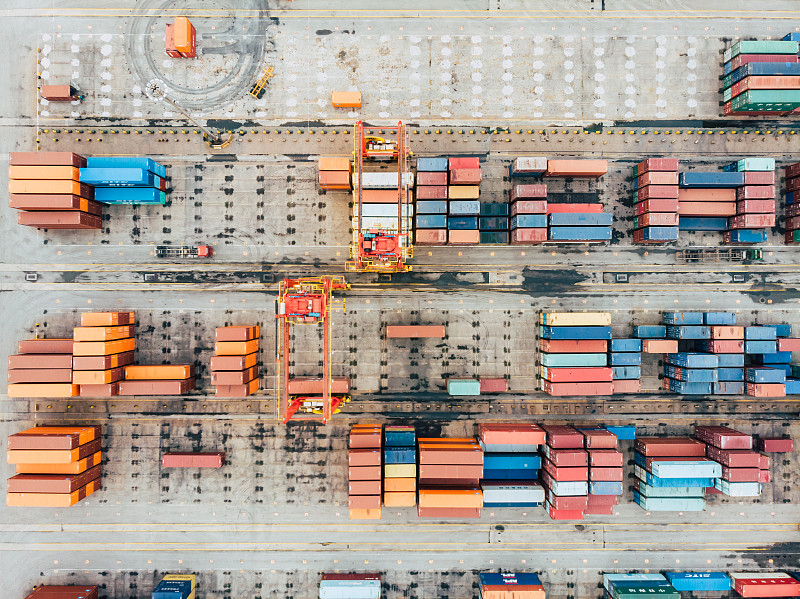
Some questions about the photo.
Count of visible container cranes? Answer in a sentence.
In total, 2 container cranes can be seen.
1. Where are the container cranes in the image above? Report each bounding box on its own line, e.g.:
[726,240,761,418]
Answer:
[275,275,357,425]
[342,119,418,277]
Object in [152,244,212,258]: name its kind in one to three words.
vehicle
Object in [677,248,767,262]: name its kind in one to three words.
vehicle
